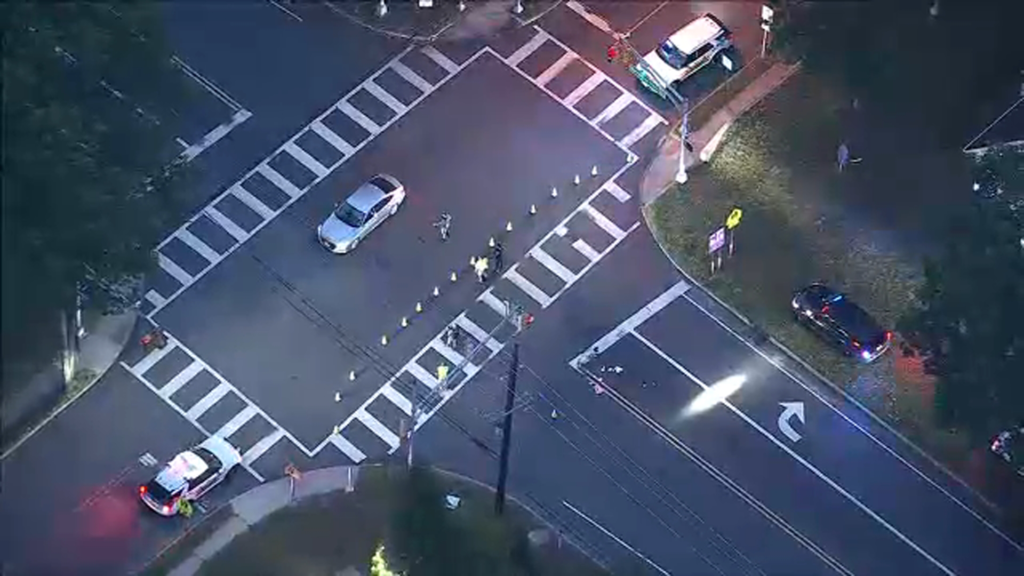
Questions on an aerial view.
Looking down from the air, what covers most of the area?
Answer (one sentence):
The bulk of the photo consists of paved ground.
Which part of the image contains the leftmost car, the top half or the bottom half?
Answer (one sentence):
You can find the leftmost car in the bottom half.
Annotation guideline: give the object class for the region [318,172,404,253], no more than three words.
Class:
car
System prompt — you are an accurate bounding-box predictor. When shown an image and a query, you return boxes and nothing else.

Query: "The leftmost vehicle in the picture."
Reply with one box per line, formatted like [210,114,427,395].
[141,437,247,519]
